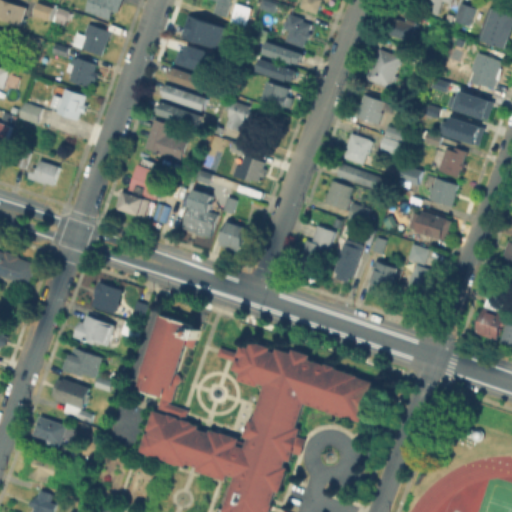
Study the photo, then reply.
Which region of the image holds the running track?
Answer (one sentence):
You can find the running track in the bottom right area of the picture.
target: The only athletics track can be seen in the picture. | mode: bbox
[412,456,512,512]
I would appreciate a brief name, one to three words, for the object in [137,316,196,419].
building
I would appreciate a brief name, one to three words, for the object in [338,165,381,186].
house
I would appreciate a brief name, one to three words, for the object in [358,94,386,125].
house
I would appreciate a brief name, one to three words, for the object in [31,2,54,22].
building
